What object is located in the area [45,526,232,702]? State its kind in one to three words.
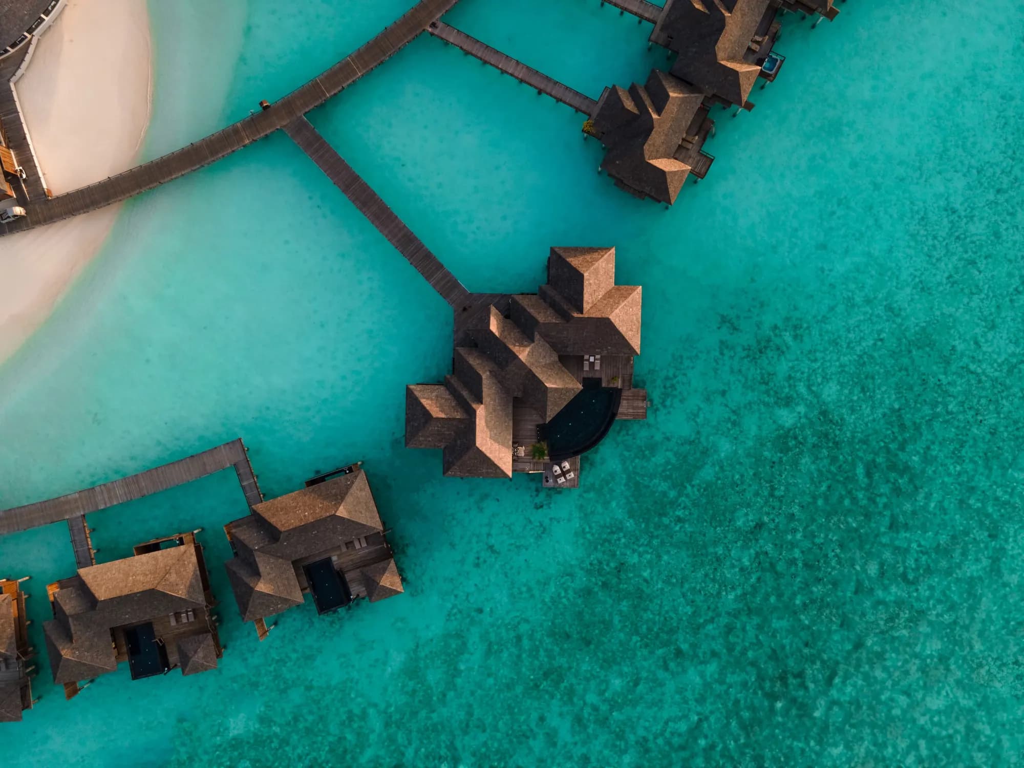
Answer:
house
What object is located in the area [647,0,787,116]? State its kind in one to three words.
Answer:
house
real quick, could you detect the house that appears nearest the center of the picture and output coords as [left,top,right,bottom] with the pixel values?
[405,245,649,488]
